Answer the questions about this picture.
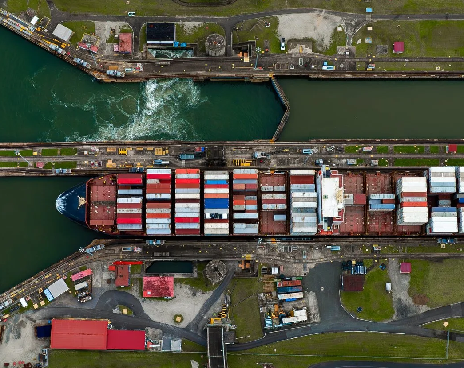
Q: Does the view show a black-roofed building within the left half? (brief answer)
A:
Yes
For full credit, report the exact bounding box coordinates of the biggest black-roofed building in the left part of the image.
[146,23,175,44]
